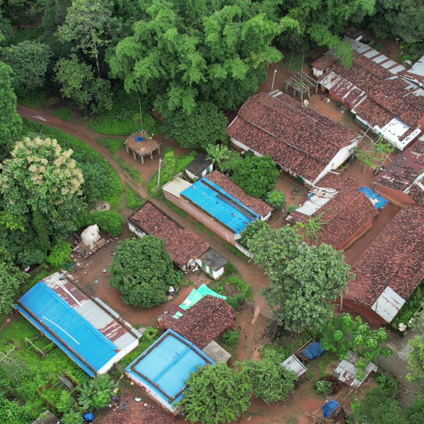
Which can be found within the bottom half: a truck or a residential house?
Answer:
residential house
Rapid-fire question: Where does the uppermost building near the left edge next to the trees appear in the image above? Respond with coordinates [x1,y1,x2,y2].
[15,270,142,380]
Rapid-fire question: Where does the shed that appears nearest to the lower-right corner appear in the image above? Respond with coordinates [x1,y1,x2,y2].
[334,357,375,393]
